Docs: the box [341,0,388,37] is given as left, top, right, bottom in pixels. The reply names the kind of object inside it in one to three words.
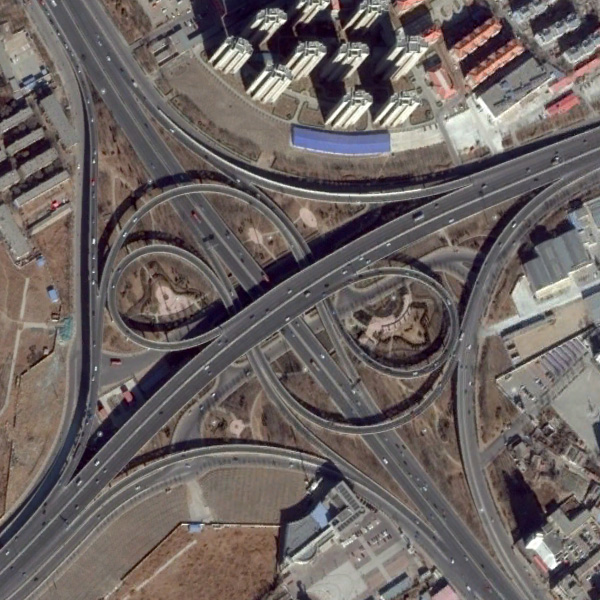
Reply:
building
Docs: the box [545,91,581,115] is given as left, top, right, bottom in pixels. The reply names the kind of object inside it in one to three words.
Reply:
shed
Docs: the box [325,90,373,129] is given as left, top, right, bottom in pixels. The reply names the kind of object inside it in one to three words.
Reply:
building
